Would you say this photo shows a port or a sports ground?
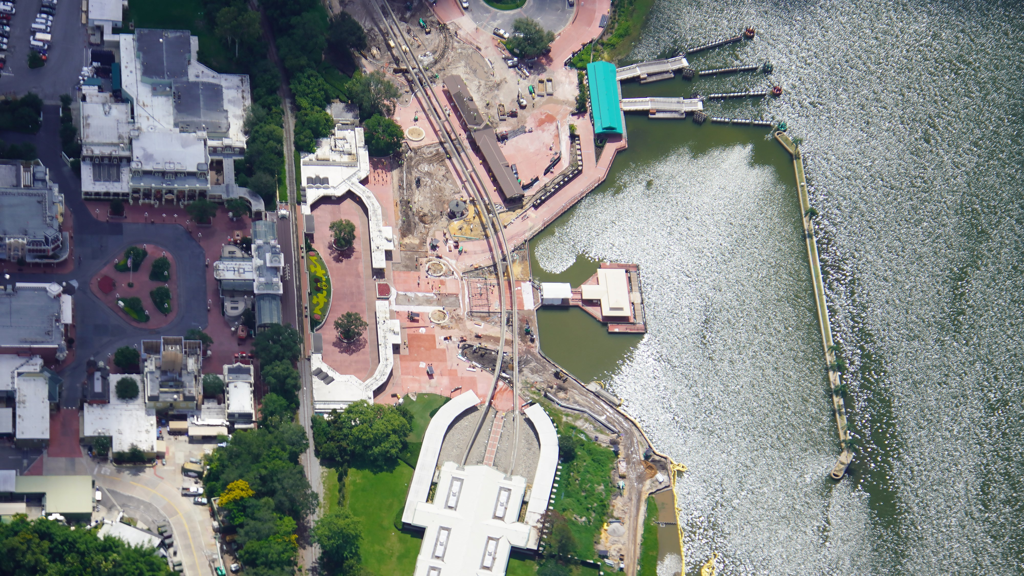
port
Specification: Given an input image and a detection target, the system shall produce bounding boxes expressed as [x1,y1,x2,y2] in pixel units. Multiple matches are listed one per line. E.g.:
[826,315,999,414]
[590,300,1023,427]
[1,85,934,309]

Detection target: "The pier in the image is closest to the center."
[570,261,647,337]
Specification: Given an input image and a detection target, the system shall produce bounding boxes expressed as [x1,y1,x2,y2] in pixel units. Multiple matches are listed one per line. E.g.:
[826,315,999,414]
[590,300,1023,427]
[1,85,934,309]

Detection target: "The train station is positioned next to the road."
[214,210,298,339]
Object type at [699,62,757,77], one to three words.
pier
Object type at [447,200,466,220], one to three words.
gazebo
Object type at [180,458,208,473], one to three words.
vehicle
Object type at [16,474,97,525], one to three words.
shed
